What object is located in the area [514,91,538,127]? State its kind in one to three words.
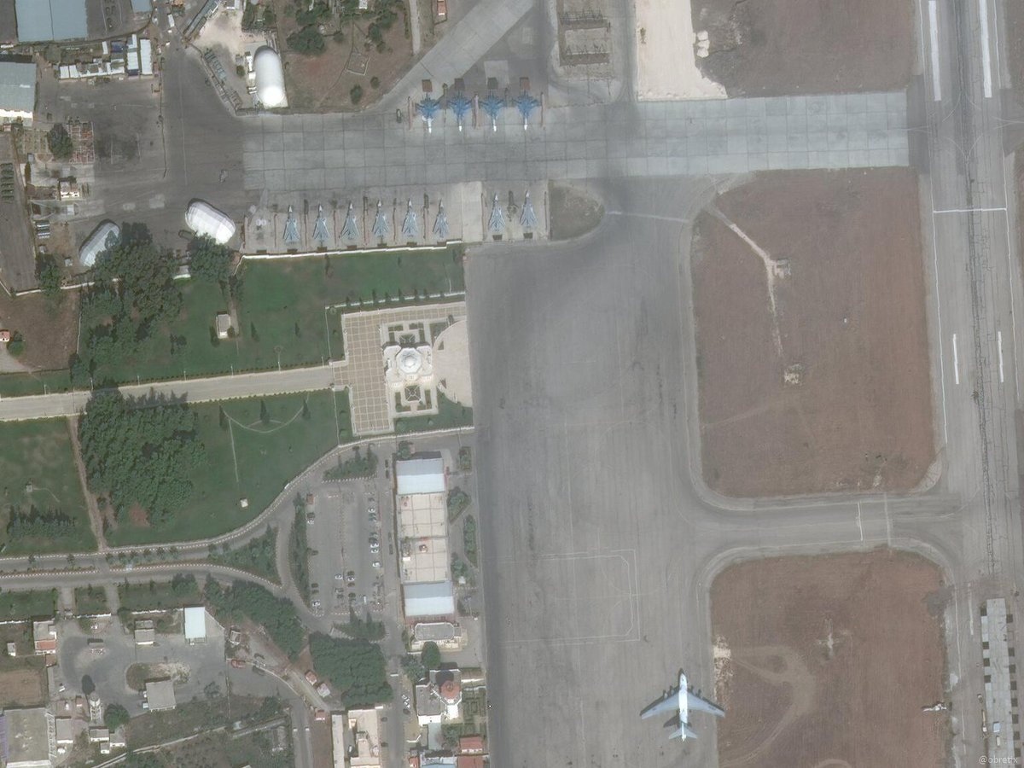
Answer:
airplane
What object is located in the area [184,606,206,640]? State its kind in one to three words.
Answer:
shed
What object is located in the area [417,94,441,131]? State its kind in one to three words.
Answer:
airplane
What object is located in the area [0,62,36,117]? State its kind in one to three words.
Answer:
hangar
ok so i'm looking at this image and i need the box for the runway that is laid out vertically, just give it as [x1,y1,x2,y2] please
[922,0,1024,768]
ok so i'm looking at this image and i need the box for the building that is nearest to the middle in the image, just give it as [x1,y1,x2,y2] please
[384,345,433,388]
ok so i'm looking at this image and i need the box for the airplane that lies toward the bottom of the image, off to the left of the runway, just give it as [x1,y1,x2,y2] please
[641,671,725,743]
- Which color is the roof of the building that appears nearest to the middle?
white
